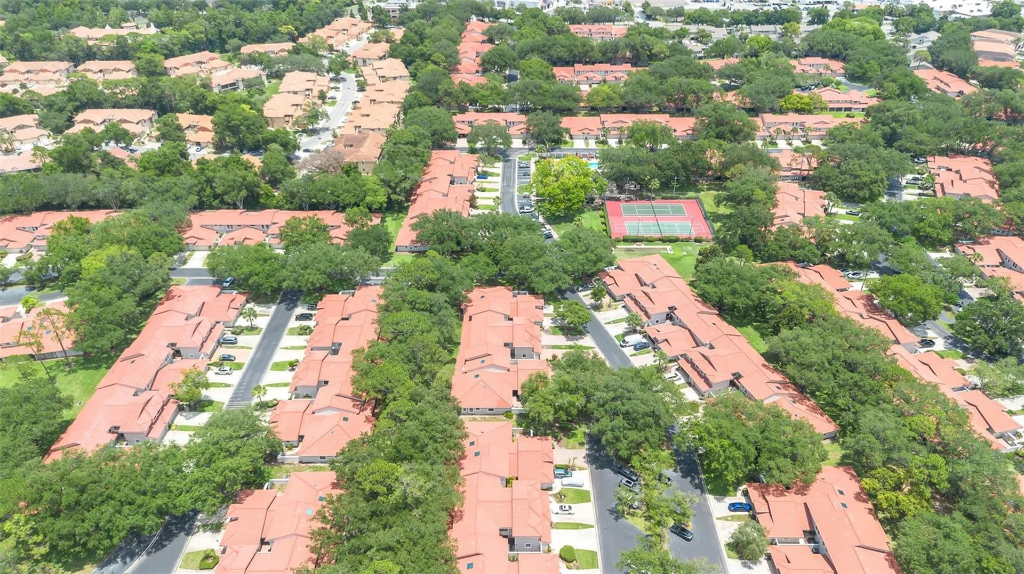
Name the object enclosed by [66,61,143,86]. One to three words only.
house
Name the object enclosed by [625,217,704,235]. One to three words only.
tennis court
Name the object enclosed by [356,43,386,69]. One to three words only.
house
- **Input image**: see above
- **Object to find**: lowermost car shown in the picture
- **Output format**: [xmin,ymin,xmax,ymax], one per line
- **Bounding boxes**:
[669,525,694,542]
